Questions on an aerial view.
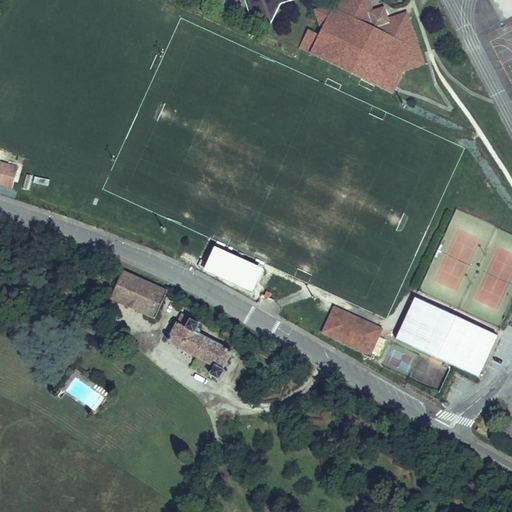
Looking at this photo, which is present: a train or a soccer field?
soccer field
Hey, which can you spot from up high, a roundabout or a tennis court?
tennis court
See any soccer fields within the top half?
Yes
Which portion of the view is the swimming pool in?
bottom left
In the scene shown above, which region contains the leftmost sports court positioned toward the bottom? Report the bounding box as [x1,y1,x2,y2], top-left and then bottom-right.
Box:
[381,342,419,378]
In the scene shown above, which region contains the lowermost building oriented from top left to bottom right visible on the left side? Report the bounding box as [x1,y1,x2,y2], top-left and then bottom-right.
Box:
[170,318,230,378]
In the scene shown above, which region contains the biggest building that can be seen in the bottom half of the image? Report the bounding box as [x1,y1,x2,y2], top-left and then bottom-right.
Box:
[396,296,498,376]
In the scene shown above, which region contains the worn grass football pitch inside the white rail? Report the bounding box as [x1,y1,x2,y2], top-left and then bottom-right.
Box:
[104,17,464,316]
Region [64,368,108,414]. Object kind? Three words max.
swimming pool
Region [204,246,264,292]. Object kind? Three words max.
building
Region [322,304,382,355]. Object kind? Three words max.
building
